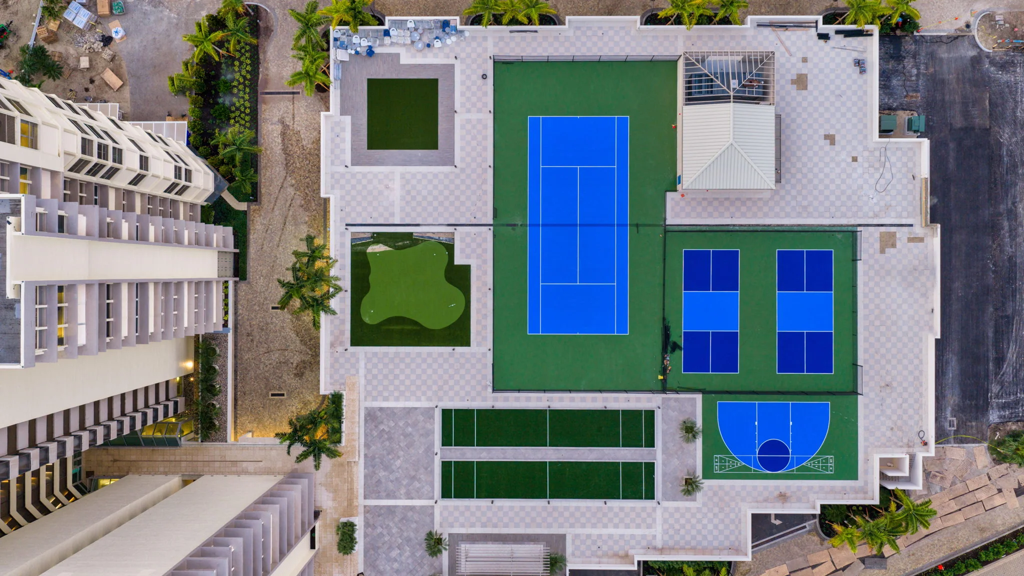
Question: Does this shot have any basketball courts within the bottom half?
Yes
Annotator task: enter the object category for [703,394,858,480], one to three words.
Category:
basketball court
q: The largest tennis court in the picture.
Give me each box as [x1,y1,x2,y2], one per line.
[493,61,677,392]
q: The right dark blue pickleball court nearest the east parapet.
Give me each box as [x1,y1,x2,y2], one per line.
[777,250,834,374]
